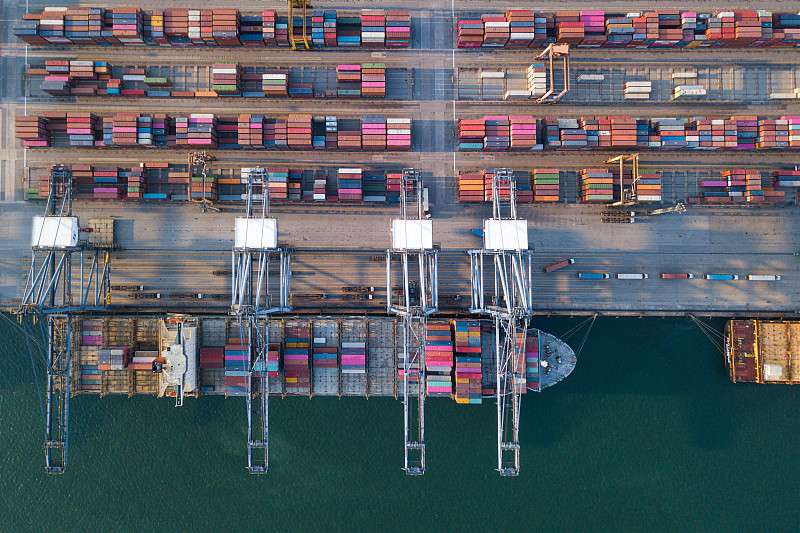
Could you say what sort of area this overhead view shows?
port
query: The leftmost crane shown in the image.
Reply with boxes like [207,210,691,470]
[13,163,120,474]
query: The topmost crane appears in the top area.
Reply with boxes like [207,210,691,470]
[286,0,313,49]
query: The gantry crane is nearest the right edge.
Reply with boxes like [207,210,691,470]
[603,152,639,206]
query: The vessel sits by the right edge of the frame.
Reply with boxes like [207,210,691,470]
[723,320,800,386]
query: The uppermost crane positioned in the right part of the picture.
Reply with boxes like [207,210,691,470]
[537,41,570,102]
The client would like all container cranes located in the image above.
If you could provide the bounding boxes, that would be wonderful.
[465,166,536,477]
[537,41,570,102]
[227,163,298,475]
[381,165,442,476]
[286,0,313,49]
[184,148,215,204]
[603,152,639,206]
[13,163,120,474]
